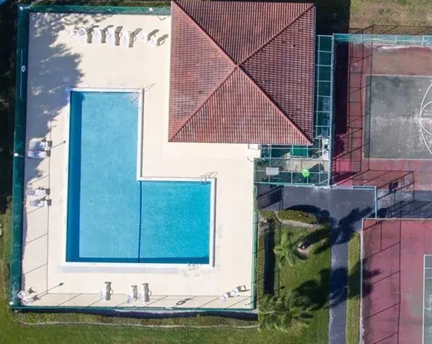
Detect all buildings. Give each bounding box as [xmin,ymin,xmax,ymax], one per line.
[168,0,316,146]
